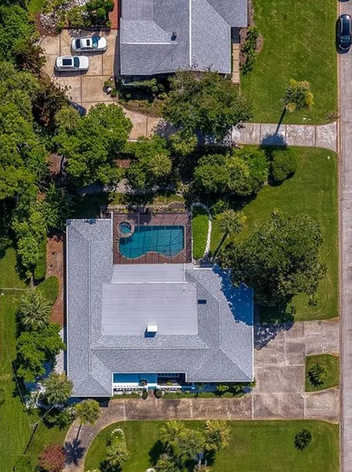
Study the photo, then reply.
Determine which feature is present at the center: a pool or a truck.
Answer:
pool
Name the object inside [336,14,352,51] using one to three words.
car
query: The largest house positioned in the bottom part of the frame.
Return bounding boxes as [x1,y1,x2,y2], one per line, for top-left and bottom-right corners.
[67,219,254,397]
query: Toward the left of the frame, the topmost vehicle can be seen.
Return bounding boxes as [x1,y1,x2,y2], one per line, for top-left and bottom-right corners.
[72,35,107,52]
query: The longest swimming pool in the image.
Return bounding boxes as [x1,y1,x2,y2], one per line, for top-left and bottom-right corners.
[118,224,187,260]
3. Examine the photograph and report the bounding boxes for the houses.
[119,0,248,78]
[67,219,254,397]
